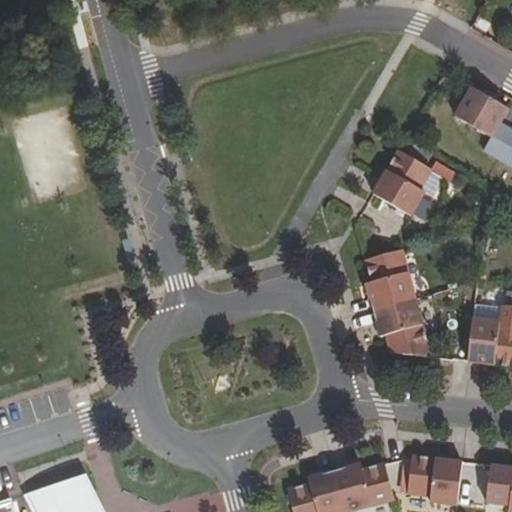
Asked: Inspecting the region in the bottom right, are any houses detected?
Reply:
Yes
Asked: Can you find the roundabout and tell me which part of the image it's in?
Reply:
bottom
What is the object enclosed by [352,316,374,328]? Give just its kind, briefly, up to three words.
vehicle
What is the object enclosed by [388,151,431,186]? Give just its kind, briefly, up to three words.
house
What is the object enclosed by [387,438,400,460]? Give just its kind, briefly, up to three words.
vehicle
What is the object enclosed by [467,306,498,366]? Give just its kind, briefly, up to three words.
house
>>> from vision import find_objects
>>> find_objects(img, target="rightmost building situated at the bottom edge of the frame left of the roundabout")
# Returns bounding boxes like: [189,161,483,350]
[23,473,103,512]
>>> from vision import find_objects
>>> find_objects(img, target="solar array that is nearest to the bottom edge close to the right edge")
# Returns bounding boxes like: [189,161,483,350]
[470,344,492,363]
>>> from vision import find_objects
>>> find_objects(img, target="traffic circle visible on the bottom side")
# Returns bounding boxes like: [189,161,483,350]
[104,276,372,512]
